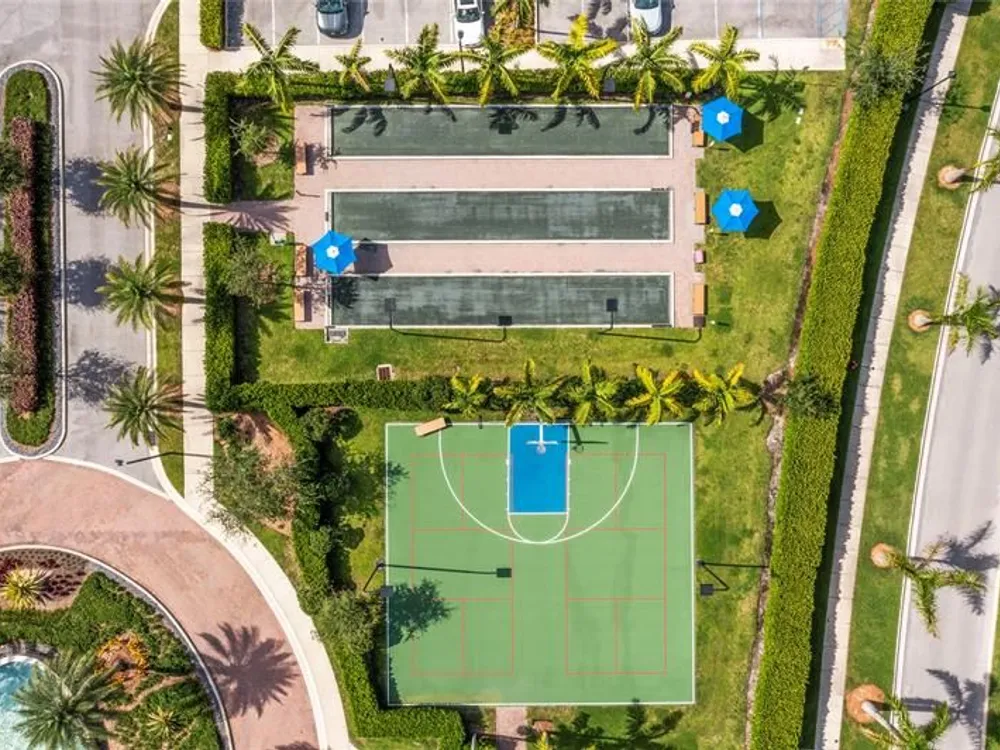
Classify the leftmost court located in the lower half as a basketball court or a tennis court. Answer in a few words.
basketball court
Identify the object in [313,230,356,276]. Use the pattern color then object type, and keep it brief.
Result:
blue umbrella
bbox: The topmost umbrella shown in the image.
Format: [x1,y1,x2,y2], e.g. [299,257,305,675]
[700,98,740,145]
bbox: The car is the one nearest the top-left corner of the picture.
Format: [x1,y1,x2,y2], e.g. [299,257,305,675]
[312,0,350,37]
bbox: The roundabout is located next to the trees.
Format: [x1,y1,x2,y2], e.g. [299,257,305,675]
[0,449,329,750]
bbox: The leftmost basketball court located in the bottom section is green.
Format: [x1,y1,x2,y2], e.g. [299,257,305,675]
[387,424,693,705]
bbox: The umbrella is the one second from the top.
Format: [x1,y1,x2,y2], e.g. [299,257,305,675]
[711,191,757,232]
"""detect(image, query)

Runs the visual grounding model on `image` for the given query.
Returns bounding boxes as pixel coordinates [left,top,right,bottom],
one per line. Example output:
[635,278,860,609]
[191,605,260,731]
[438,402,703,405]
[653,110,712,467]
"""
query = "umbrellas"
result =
[313,230,356,276]
[711,191,757,232]
[700,98,740,145]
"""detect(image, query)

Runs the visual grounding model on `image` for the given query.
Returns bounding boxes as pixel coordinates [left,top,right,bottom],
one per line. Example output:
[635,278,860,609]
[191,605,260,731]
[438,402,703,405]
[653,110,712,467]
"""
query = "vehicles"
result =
[628,0,665,34]
[451,0,489,49]
[312,0,350,37]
